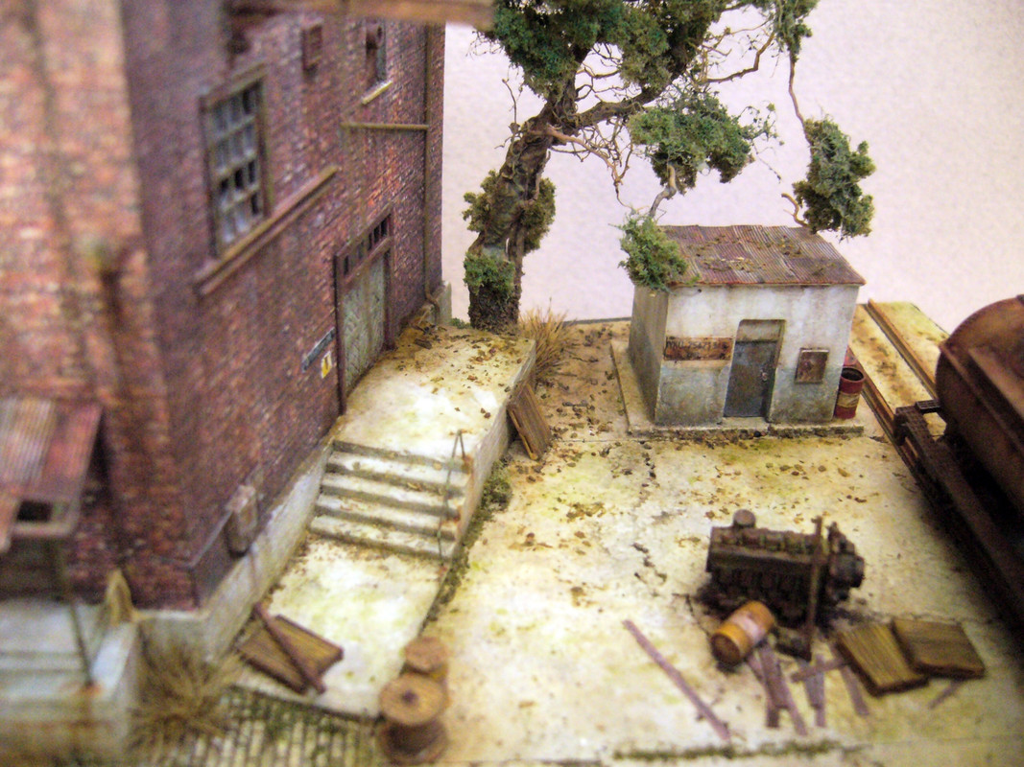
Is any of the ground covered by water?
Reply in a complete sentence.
No, no water is visible.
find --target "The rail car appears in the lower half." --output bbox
[879,293,1024,654]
